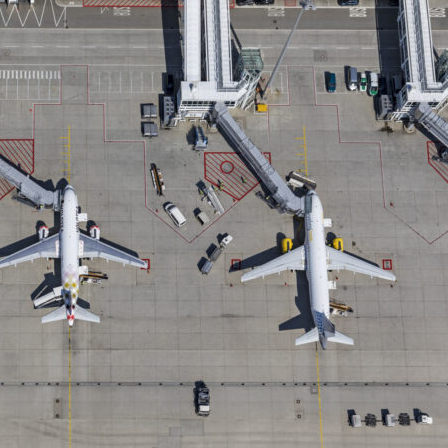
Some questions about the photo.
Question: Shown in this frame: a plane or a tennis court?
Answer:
plane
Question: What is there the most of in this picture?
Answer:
paved ground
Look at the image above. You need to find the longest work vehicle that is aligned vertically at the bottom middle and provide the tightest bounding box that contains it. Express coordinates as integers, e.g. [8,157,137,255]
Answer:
[197,385,211,414]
